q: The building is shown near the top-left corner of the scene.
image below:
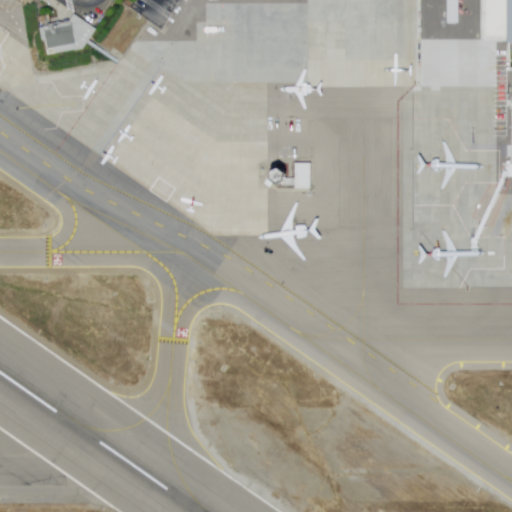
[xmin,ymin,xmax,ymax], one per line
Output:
[39,14,96,54]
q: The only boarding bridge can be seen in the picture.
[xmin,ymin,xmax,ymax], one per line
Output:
[472,168,506,252]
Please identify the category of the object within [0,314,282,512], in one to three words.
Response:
runway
